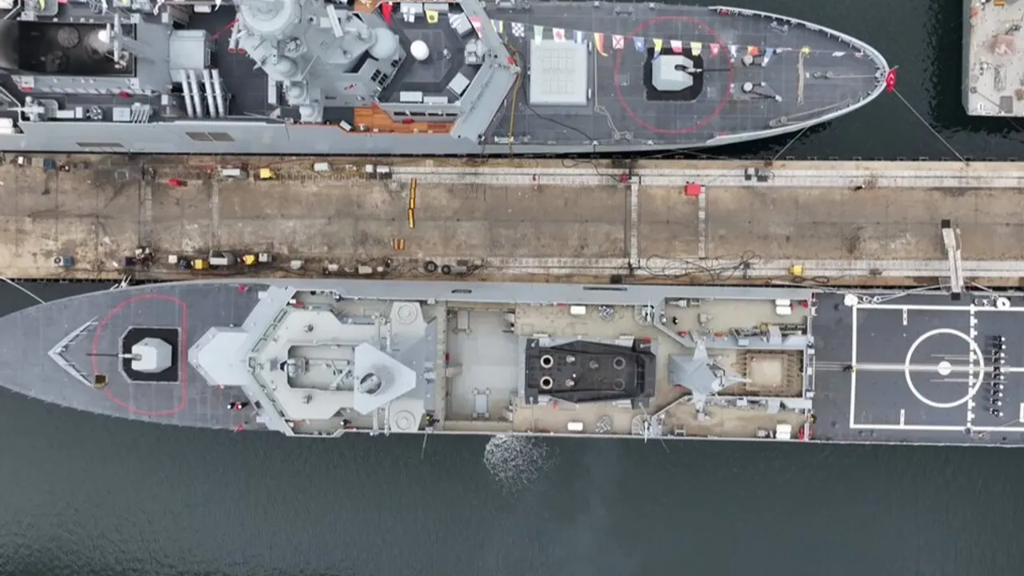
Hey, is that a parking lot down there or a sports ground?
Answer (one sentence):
What you see here is a parking lot.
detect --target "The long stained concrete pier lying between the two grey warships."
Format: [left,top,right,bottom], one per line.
[0,151,1024,291]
